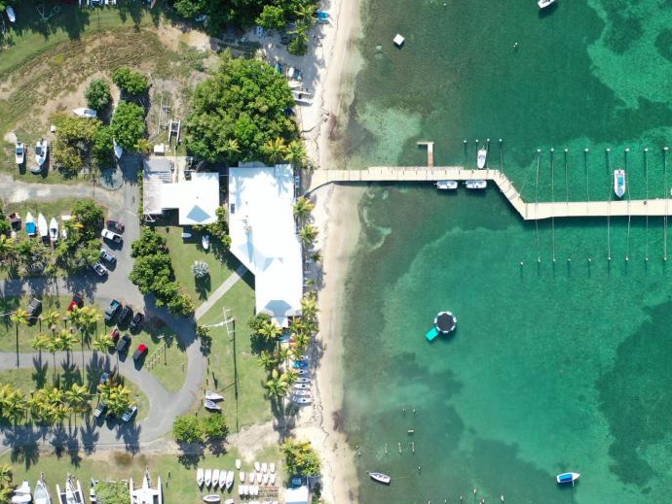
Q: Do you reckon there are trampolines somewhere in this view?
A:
Yes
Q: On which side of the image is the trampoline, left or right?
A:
right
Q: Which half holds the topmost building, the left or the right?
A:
left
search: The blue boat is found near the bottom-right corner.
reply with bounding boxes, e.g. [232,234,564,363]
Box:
[556,474,578,488]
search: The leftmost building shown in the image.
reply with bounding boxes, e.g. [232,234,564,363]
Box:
[143,157,221,225]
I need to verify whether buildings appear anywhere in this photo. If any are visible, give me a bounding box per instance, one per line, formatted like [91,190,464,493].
[228,162,302,327]
[285,477,321,504]
[143,157,221,225]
